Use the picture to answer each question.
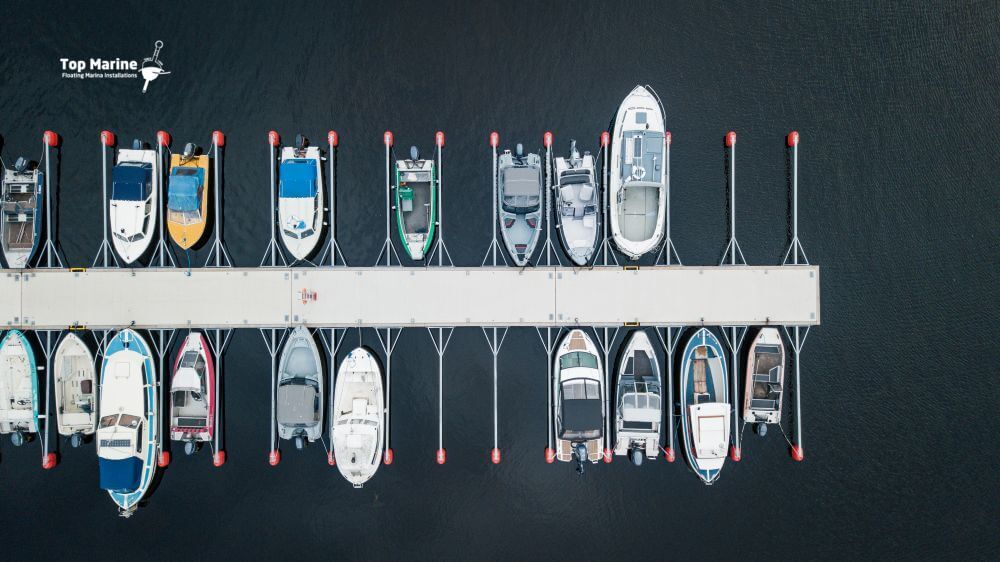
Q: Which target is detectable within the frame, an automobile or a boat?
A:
boat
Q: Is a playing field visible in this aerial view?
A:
No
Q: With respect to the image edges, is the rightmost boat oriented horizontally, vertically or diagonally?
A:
vertically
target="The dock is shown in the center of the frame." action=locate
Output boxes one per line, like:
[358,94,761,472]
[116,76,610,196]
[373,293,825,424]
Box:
[0,265,819,329]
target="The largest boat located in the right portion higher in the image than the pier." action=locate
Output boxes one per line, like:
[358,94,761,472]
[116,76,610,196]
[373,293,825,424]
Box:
[608,85,666,260]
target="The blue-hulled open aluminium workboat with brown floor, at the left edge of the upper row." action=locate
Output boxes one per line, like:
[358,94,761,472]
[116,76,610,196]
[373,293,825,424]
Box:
[0,150,46,268]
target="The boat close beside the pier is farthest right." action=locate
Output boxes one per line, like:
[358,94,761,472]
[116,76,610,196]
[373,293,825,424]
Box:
[742,327,785,436]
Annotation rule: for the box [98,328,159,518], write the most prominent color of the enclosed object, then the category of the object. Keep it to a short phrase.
white boat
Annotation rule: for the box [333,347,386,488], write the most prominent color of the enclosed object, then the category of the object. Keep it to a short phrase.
white boat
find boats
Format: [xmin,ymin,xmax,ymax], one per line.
[0,330,46,445]
[277,326,323,450]
[98,328,159,518]
[680,327,730,486]
[742,327,785,436]
[555,131,601,266]
[497,143,542,267]
[614,330,661,464]
[333,347,386,488]
[278,133,324,261]
[172,332,220,454]
[110,139,159,265]
[53,333,101,447]
[167,138,211,250]
[395,146,438,261]
[554,329,605,471]
[0,150,46,268]
[608,85,666,260]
